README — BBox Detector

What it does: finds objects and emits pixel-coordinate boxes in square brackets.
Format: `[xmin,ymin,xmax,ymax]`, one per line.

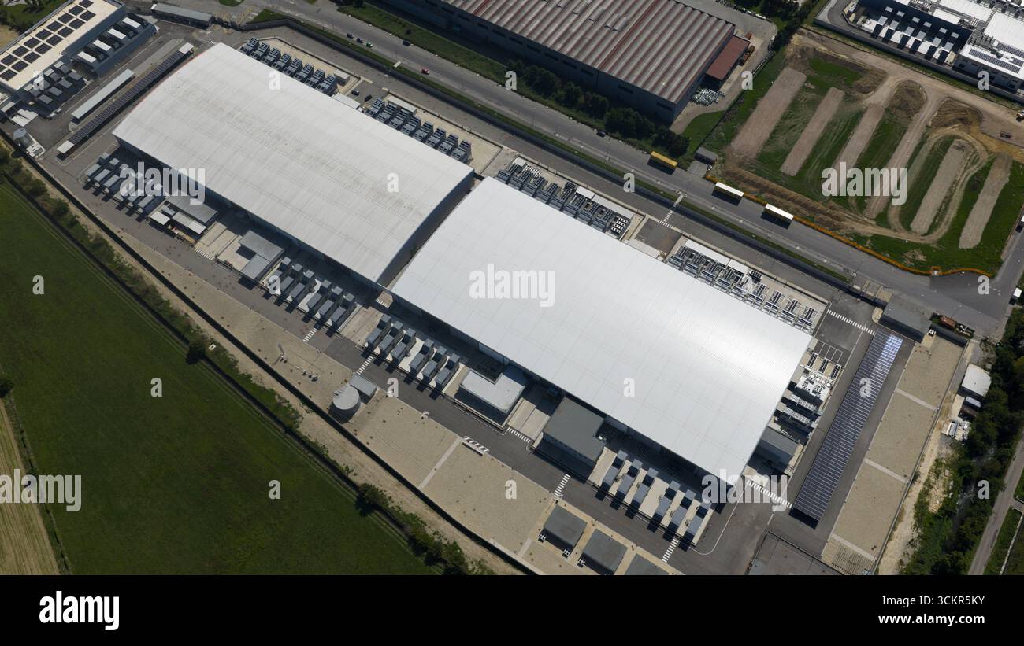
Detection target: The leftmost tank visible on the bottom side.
[332,384,361,420]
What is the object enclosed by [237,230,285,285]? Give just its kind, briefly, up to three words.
building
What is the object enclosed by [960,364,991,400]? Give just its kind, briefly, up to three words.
barn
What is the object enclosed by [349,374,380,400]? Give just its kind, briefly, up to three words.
building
